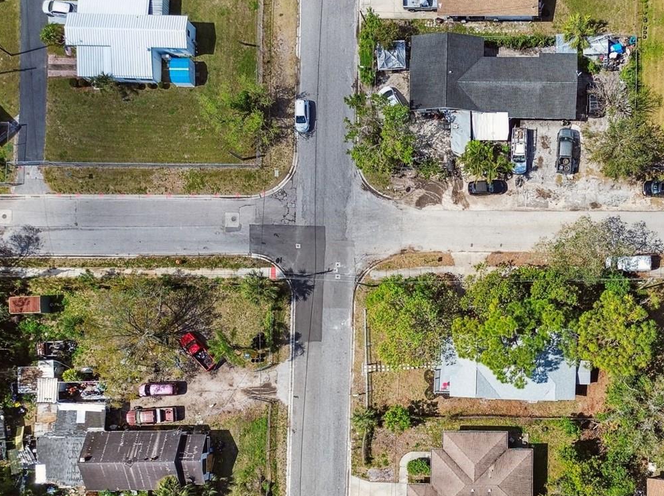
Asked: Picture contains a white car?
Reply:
Yes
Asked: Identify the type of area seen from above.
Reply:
residential area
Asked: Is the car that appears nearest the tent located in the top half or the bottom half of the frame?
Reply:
top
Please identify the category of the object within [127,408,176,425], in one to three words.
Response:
vehicle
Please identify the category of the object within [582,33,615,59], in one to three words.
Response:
shed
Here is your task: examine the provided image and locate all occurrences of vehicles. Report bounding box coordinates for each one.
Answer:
[42,0,78,18]
[293,98,310,134]
[510,127,528,174]
[605,254,652,271]
[403,0,437,10]
[179,332,220,373]
[643,179,664,197]
[469,179,506,195]
[380,82,408,116]
[140,381,180,398]
[127,408,176,425]
[557,129,574,174]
